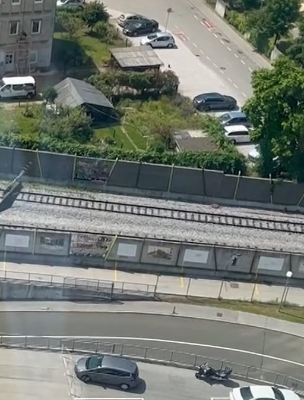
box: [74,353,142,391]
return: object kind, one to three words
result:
car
